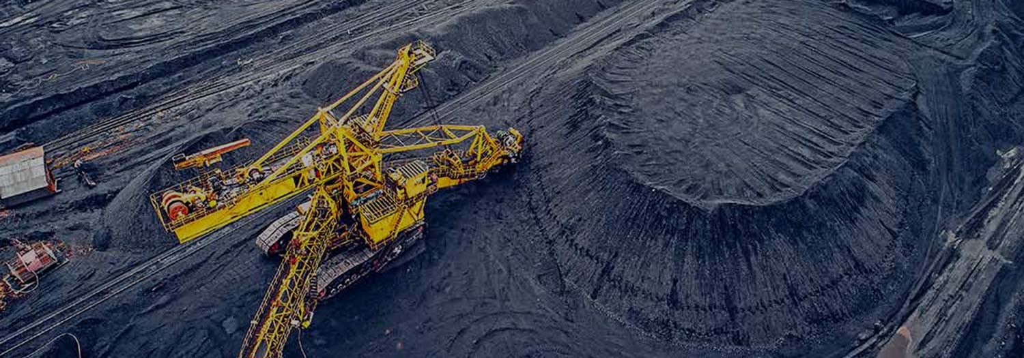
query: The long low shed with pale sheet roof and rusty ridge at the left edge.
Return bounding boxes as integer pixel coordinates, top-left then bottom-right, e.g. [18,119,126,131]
[0,147,64,210]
